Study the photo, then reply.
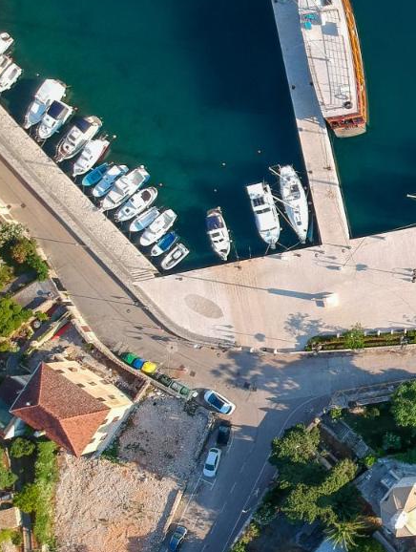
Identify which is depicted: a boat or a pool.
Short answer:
boat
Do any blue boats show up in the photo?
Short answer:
Yes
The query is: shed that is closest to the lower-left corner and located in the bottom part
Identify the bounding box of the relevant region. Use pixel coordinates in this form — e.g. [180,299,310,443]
[0,505,34,531]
